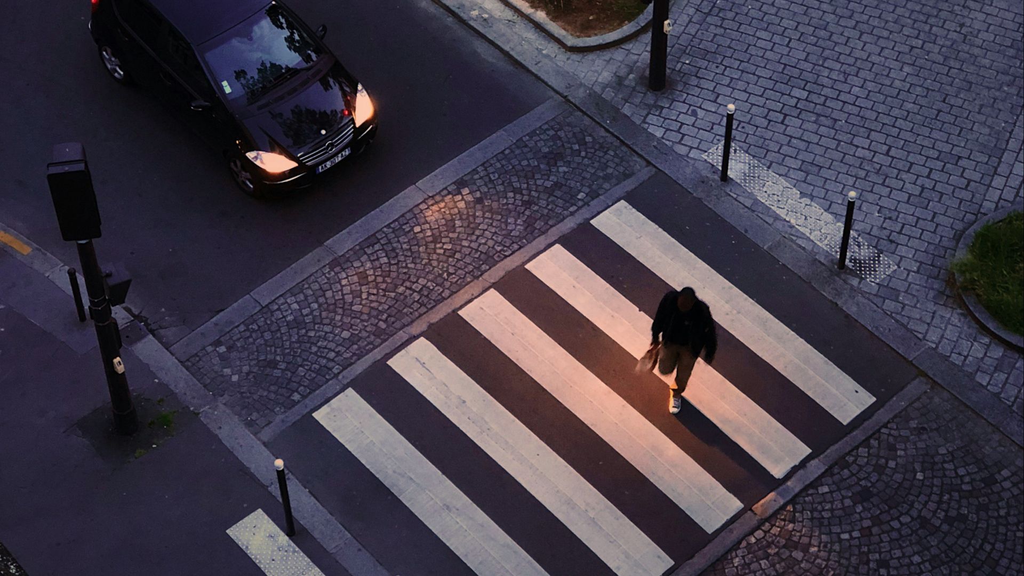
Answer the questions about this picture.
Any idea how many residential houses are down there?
0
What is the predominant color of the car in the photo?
black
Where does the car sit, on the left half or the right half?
left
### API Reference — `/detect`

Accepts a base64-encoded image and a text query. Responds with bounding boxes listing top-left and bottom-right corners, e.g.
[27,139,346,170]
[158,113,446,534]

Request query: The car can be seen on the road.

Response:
[98,0,375,198]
